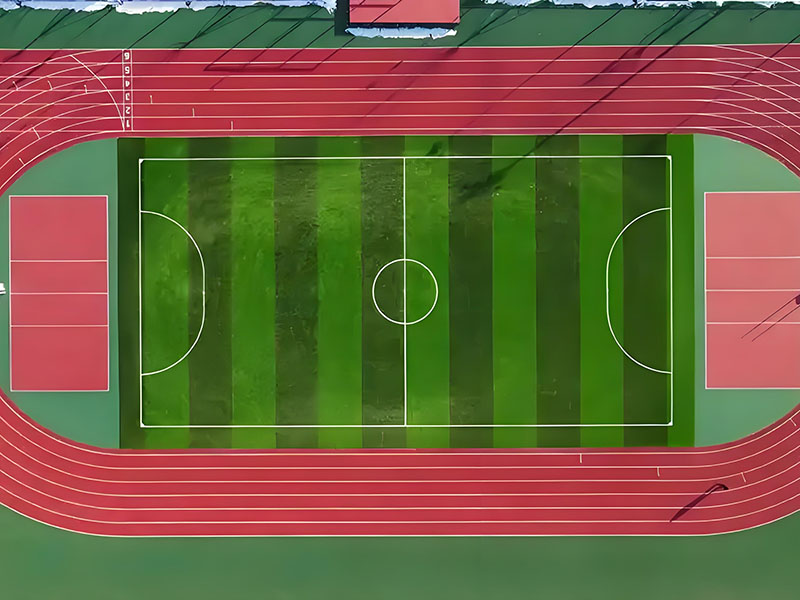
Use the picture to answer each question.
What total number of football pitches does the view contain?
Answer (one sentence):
Only 1 football pitch is visible.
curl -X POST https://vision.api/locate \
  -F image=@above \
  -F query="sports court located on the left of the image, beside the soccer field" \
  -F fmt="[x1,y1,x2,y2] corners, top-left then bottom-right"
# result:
[9,195,109,391]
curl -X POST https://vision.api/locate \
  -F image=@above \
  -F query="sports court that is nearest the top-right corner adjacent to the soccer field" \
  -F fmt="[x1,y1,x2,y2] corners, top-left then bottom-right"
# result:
[705,191,800,388]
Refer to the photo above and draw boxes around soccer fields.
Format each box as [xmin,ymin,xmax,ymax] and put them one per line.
[118,134,695,449]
